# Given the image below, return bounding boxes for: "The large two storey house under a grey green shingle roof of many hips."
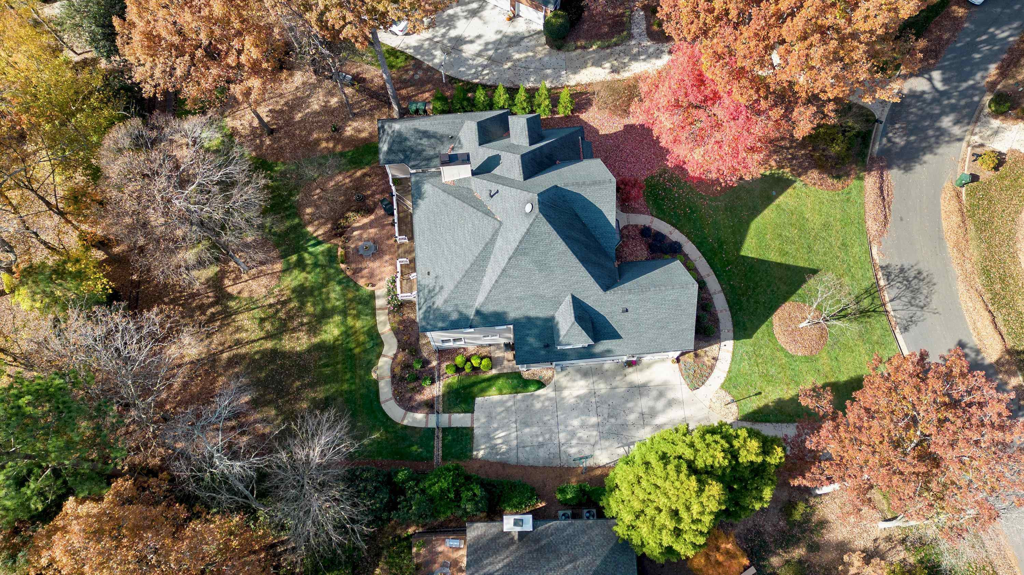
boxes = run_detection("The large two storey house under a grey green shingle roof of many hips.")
[378,109,699,377]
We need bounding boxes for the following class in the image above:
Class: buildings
[490,0,563,24]
[463,515,640,575]
[378,109,699,377]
